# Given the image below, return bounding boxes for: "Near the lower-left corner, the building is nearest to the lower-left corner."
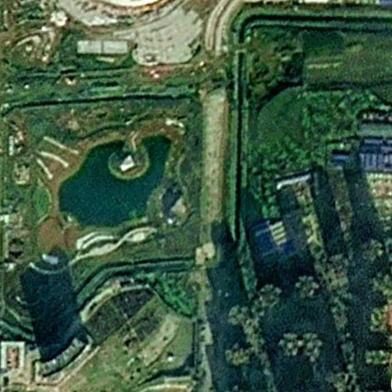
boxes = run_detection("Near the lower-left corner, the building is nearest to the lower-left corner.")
[0,341,27,378]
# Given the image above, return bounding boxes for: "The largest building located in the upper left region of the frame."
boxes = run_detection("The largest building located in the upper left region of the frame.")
[78,41,128,53]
